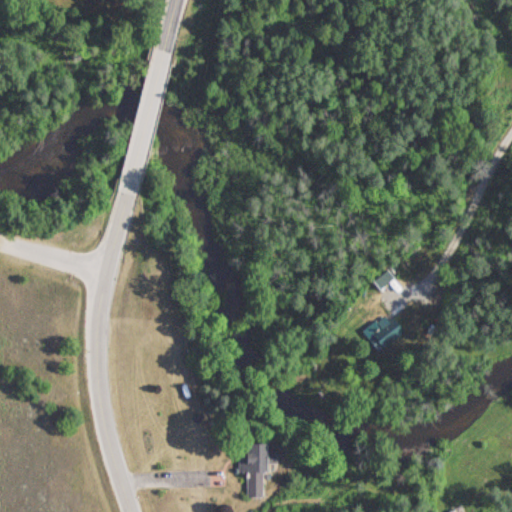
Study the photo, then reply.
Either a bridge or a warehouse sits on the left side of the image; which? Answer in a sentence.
What appears on the left side of the image is a bridge.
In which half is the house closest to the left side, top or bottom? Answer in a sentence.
Seen from above, the house closest to the left side lies in the bottom half of the view.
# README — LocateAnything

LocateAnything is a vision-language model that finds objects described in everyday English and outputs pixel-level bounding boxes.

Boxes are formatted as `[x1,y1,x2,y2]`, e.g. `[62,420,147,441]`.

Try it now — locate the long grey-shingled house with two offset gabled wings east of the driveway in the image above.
[238,444,279,498]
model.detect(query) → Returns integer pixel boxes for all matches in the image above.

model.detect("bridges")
[118,48,174,196]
